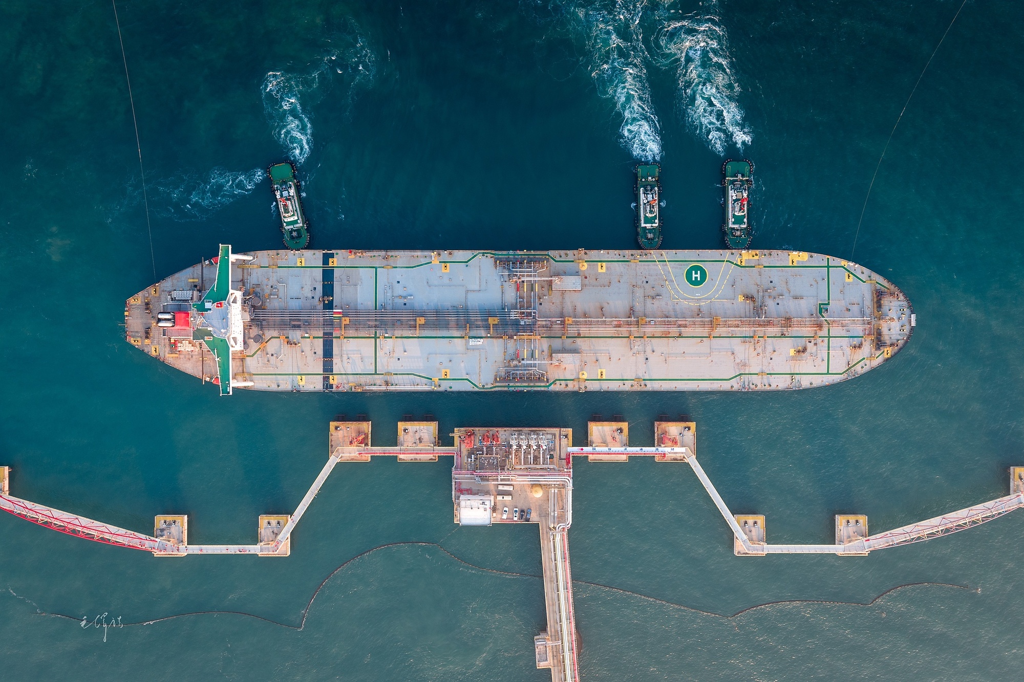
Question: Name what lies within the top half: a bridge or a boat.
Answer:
boat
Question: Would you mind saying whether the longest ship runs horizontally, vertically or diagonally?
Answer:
horizontally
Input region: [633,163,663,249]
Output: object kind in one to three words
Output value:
boat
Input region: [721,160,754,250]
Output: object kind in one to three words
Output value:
boat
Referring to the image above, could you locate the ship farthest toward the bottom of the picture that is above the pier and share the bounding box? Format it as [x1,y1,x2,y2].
[118,244,917,396]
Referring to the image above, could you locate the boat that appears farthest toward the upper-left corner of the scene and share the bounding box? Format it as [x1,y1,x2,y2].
[267,161,308,250]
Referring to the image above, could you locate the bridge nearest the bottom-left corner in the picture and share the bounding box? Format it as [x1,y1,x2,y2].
[0,492,159,552]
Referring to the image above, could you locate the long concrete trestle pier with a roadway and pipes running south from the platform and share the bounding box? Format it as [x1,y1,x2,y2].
[540,523,582,682]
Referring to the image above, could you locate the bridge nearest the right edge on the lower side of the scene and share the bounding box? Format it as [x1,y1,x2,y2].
[865,492,1024,552]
